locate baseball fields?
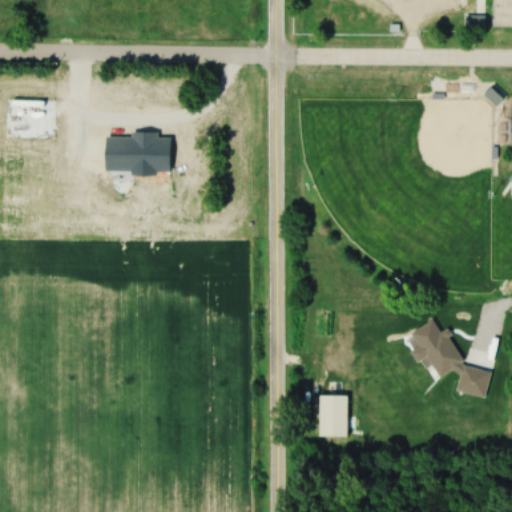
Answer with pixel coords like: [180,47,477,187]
[300,98,495,292]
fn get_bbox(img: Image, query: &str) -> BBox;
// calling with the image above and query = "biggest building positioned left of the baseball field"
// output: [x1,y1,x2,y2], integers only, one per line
[105,132,172,183]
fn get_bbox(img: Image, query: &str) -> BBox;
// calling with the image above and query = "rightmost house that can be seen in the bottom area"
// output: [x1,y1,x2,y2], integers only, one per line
[402,319,494,398]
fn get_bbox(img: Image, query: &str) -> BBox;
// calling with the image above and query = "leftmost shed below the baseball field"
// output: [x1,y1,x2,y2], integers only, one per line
[320,396,348,438]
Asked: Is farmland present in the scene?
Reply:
Yes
